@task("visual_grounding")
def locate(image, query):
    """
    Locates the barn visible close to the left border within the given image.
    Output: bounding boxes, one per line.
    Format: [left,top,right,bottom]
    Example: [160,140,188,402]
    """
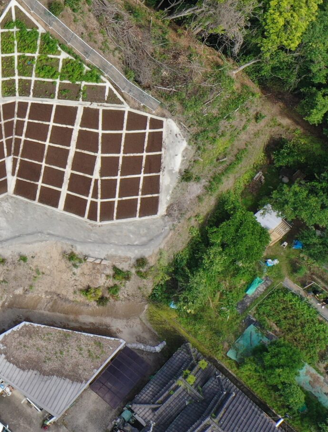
[0,321,127,419]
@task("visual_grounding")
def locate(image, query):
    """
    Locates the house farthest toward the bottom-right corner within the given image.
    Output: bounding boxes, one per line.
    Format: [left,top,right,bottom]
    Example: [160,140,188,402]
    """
[122,345,268,432]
